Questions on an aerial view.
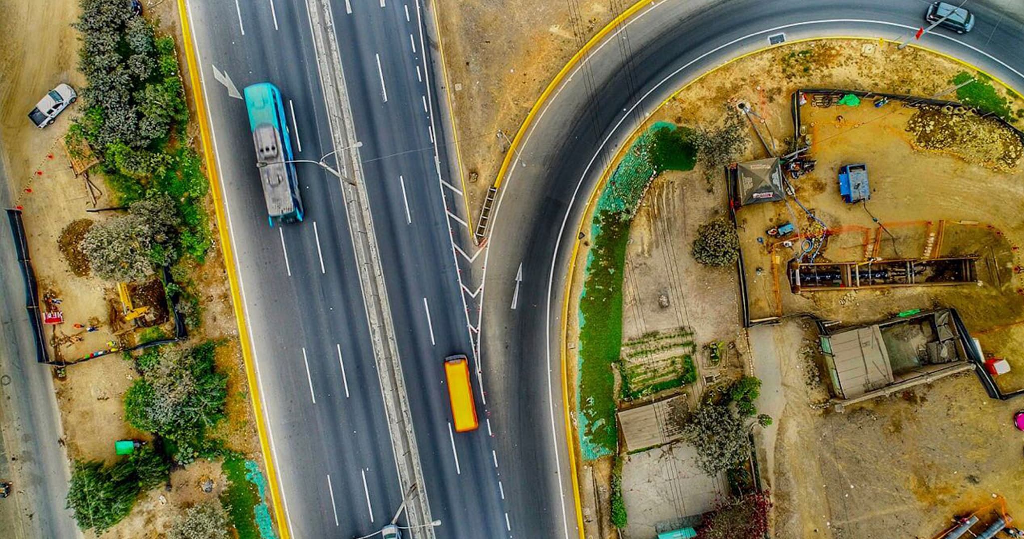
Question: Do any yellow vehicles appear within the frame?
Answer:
Yes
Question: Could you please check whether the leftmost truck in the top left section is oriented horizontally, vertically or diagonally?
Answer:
diagonally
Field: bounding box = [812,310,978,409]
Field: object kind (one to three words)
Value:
building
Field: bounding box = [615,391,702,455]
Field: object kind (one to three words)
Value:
shed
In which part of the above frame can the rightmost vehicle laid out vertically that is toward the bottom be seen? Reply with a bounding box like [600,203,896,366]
[444,352,478,431]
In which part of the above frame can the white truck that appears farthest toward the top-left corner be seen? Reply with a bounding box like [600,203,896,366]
[26,84,79,130]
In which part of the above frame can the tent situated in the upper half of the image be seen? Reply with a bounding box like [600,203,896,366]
[736,158,783,207]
